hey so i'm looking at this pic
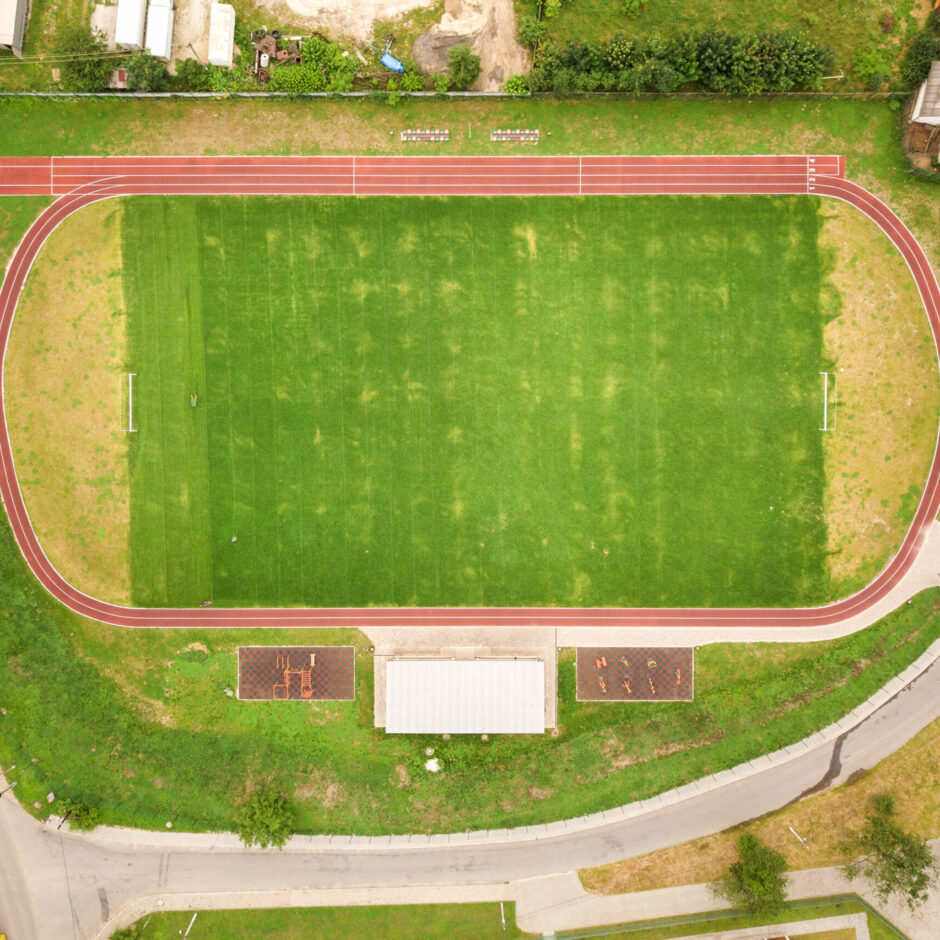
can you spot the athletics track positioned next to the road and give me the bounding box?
[0,155,940,628]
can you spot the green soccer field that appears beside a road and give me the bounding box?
[121,195,827,608]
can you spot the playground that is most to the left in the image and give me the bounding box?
[238,646,354,700]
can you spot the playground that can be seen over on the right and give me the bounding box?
[576,647,694,700]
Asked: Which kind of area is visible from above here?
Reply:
sports ground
